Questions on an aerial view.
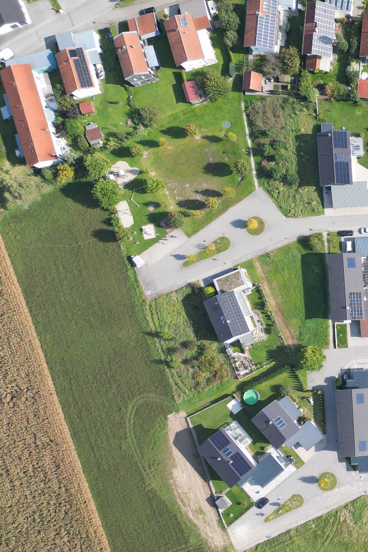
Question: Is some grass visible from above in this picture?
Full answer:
Yes, grass shows up in the scene.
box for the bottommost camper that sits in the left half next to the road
[133,254,147,268]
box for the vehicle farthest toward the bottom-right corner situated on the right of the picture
[255,496,271,509]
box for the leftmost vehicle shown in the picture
[0,48,16,64]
